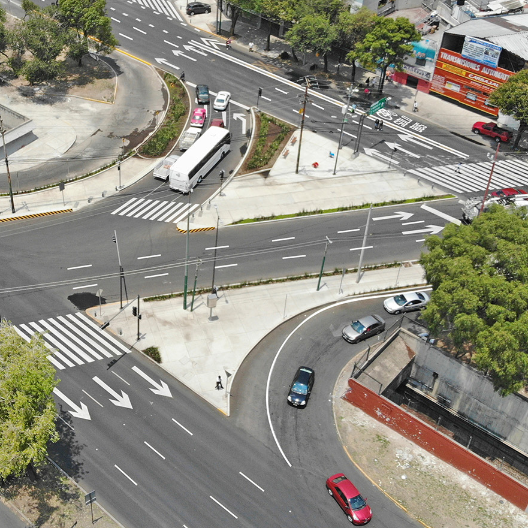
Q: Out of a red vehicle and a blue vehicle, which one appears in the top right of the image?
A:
red vehicle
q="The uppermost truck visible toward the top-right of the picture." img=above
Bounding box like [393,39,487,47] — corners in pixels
[468,122,517,145]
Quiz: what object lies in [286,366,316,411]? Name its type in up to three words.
car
